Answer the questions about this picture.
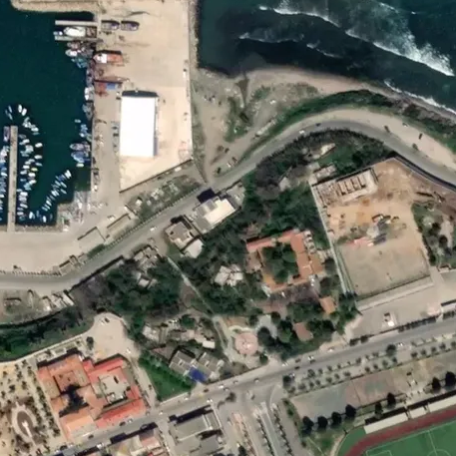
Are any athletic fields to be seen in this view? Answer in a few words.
Yes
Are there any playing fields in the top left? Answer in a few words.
No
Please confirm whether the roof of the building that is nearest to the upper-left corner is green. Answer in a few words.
No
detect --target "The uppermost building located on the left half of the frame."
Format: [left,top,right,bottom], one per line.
[120,97,158,156]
